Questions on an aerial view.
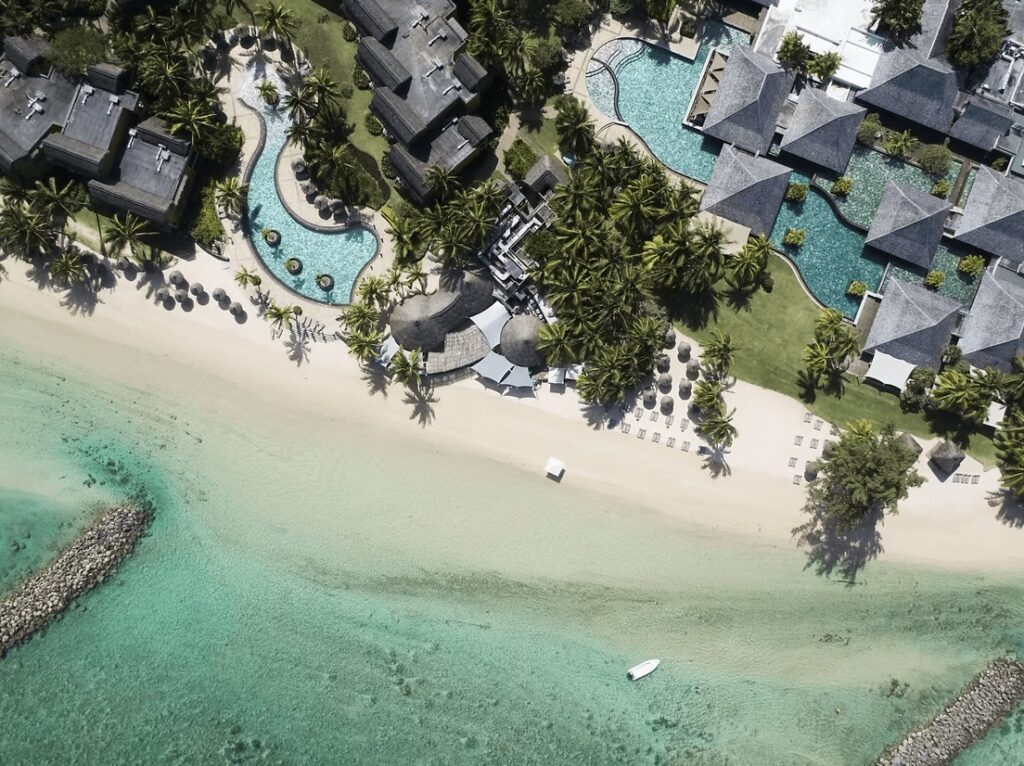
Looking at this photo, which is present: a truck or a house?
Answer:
house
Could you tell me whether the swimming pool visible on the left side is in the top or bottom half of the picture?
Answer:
top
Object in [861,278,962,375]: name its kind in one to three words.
building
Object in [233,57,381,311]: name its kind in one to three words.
swimming pool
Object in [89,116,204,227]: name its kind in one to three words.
house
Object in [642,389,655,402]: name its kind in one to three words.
umbrella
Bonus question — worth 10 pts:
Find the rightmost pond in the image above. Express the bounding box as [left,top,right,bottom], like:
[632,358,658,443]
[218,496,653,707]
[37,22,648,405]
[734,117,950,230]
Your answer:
[813,140,999,306]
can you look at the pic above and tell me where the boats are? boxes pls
[627,660,659,679]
